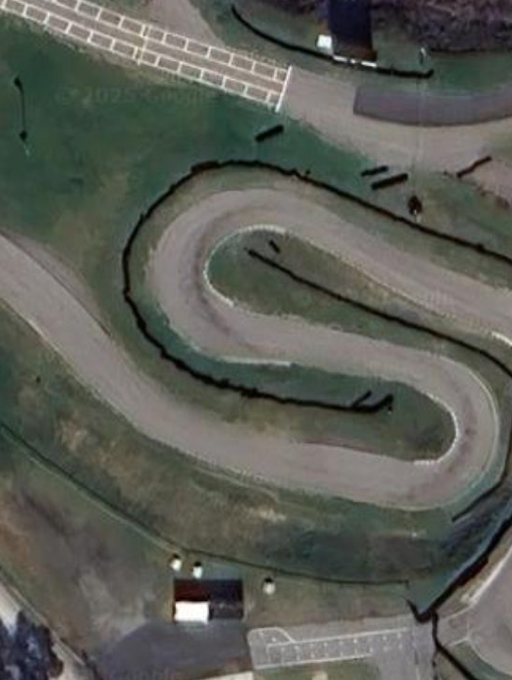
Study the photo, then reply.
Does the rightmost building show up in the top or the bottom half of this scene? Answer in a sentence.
Seen from above, the rightmost building lies in the top half of the view.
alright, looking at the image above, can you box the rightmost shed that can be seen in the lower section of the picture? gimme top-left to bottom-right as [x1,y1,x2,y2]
[207,596,242,621]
